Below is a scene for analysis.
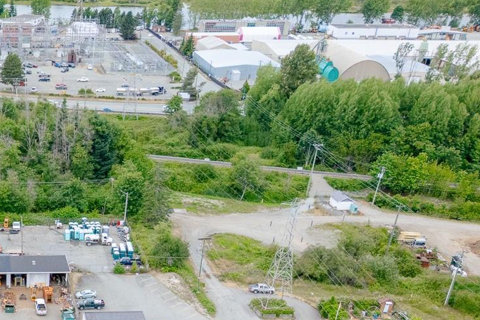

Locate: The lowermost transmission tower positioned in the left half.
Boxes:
[114,43,148,118]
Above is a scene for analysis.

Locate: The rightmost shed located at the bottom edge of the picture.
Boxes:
[376,292,400,312]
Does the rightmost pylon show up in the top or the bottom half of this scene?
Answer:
bottom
